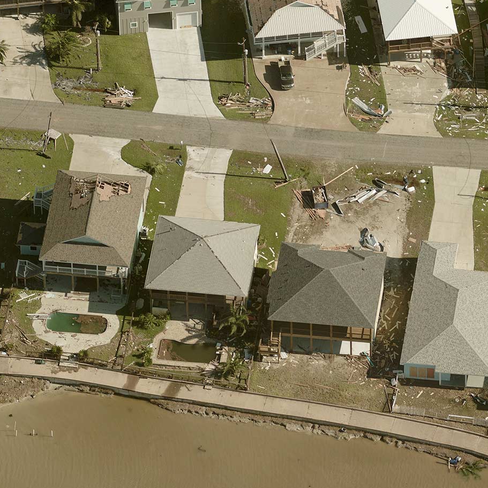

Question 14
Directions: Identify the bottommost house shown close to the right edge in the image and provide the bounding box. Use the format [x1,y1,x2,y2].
[396,241,488,393]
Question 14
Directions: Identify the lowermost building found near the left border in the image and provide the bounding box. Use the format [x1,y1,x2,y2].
[16,170,148,299]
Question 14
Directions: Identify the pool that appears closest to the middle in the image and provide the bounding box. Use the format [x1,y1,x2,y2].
[150,319,236,367]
